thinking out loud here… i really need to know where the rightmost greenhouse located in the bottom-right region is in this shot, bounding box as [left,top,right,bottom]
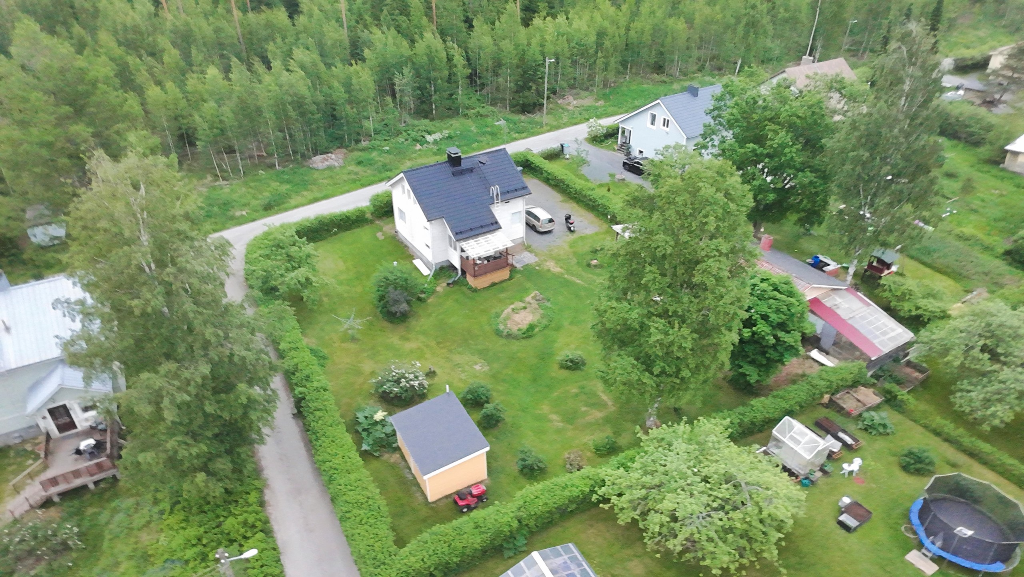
[768,421,836,484]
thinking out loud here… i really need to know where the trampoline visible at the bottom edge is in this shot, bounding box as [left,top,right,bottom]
[911,479,1024,577]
